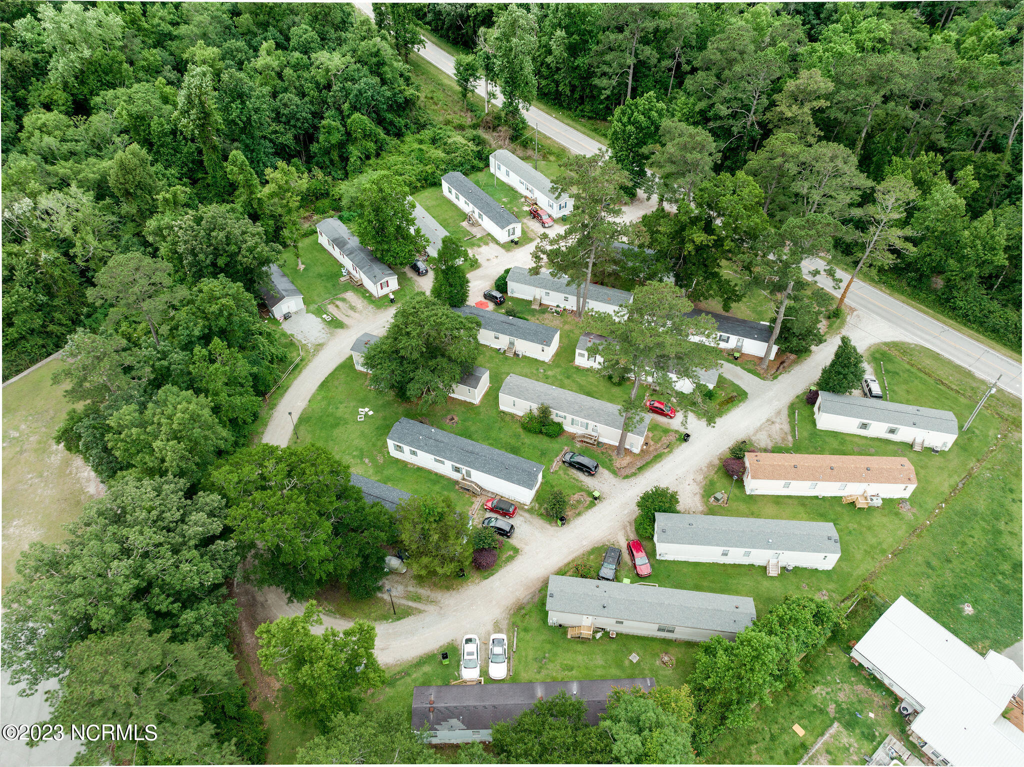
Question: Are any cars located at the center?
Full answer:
Yes, a car shows up at the center.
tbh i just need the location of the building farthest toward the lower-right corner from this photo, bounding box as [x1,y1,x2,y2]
[845,594,1024,767]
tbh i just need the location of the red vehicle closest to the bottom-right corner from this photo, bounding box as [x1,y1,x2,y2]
[627,540,650,576]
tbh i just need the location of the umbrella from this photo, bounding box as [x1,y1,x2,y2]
[474,299,491,312]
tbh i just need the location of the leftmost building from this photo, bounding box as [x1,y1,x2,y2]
[260,267,306,319]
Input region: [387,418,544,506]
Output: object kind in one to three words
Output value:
house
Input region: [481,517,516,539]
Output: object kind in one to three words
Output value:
car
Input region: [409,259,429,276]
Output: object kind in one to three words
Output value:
car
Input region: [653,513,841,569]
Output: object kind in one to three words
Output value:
house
